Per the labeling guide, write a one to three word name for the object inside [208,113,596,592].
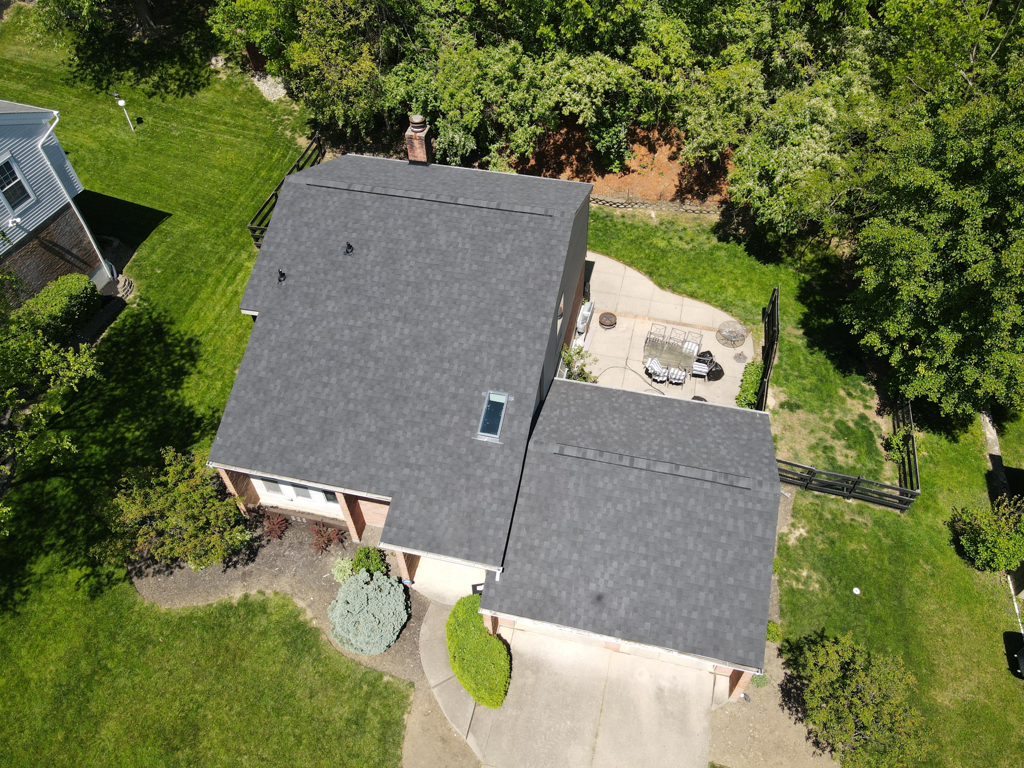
house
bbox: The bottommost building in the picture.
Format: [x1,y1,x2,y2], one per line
[476,375,783,702]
